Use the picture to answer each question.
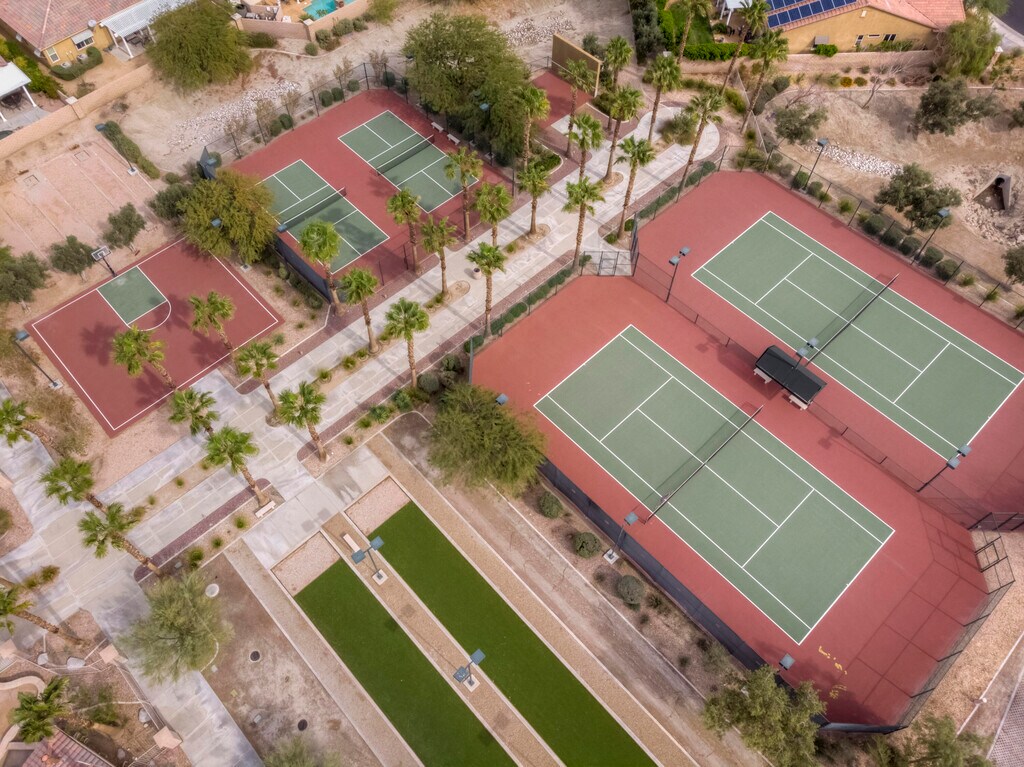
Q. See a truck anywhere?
No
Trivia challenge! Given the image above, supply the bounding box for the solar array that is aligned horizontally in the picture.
[758,0,857,27]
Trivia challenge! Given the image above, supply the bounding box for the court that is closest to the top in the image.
[491,71,590,141]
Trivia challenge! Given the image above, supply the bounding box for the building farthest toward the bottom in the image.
[21,731,111,767]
